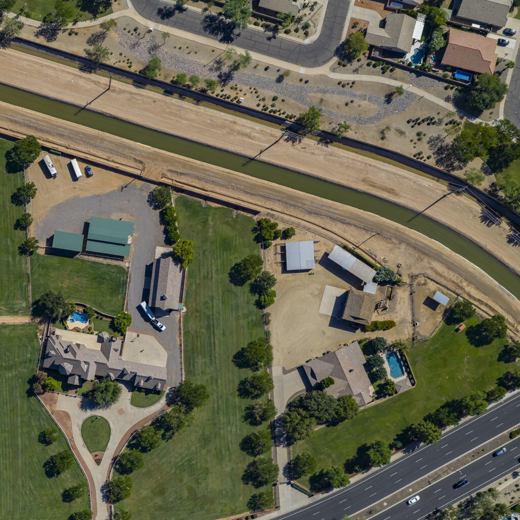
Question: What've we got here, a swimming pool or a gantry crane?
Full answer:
The one in the frame is a swimming pool.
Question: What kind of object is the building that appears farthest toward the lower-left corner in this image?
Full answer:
It looks like the building that appears farthest toward the lower-left corner is a home.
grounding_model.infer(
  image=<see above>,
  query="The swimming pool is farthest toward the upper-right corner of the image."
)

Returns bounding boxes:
[453,69,473,83]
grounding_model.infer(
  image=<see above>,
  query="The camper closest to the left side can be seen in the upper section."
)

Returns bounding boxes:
[42,155,57,178]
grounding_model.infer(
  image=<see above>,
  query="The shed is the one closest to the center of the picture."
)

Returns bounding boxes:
[284,241,314,270]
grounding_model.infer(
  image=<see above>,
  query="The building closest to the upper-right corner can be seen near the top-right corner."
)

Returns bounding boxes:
[453,0,513,28]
